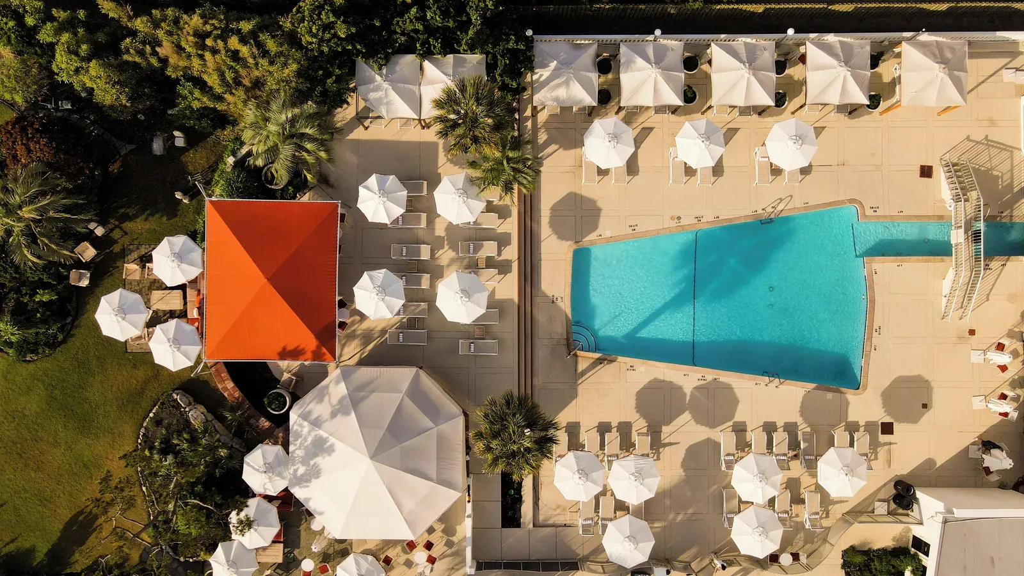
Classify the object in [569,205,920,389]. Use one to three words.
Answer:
swimming pool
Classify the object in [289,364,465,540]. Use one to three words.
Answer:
tent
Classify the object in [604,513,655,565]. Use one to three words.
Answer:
umbrella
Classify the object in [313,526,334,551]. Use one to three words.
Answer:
umbrella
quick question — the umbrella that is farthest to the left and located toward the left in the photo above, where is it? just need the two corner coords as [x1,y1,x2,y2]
[99,287,154,338]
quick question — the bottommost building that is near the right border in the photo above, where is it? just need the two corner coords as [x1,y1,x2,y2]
[900,489,1024,576]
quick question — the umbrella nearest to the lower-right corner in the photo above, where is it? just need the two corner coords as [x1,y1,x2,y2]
[972,443,1016,469]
